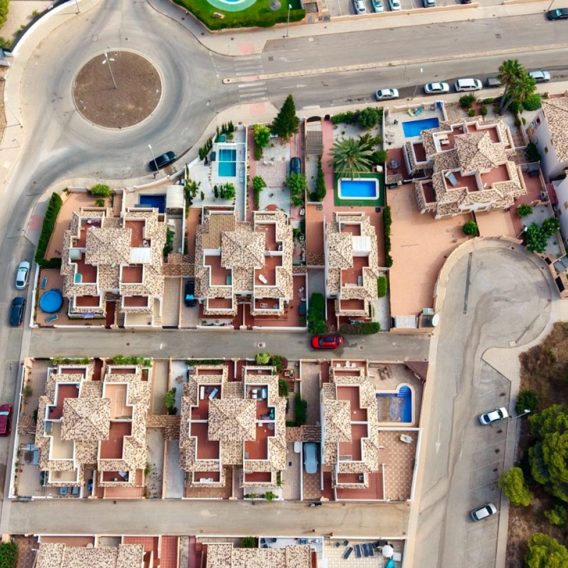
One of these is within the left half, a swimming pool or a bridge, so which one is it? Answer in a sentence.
There is a swimming pool within the left half.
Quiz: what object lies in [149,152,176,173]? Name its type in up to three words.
car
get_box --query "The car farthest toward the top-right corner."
[547,7,568,20]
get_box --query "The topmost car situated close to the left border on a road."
[15,263,30,288]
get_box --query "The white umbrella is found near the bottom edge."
[381,544,393,558]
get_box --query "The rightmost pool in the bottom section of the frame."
[374,383,415,425]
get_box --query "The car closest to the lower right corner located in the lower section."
[469,503,497,523]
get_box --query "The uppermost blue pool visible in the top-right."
[401,117,440,138]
